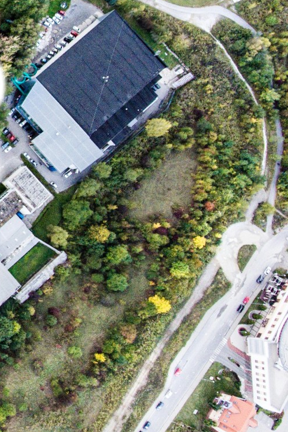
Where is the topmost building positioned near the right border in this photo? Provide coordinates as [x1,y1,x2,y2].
[253,276,288,340]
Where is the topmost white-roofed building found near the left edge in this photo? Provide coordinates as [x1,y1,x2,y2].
[1,167,53,213]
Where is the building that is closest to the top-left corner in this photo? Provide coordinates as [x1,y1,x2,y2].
[29,10,167,136]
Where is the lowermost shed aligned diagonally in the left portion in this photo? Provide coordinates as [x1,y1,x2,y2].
[13,251,67,303]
